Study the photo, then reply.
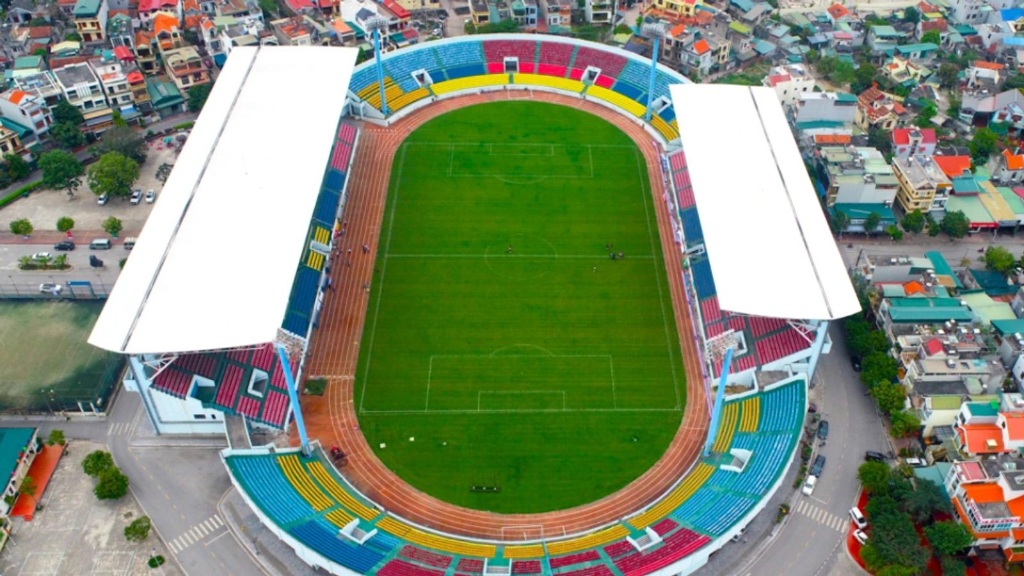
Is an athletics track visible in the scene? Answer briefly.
Yes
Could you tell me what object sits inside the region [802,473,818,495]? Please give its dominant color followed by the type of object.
white car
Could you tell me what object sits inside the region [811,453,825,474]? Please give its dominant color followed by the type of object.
blue car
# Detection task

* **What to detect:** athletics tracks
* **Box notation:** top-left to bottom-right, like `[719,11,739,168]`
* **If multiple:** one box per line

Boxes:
[283,89,718,542]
